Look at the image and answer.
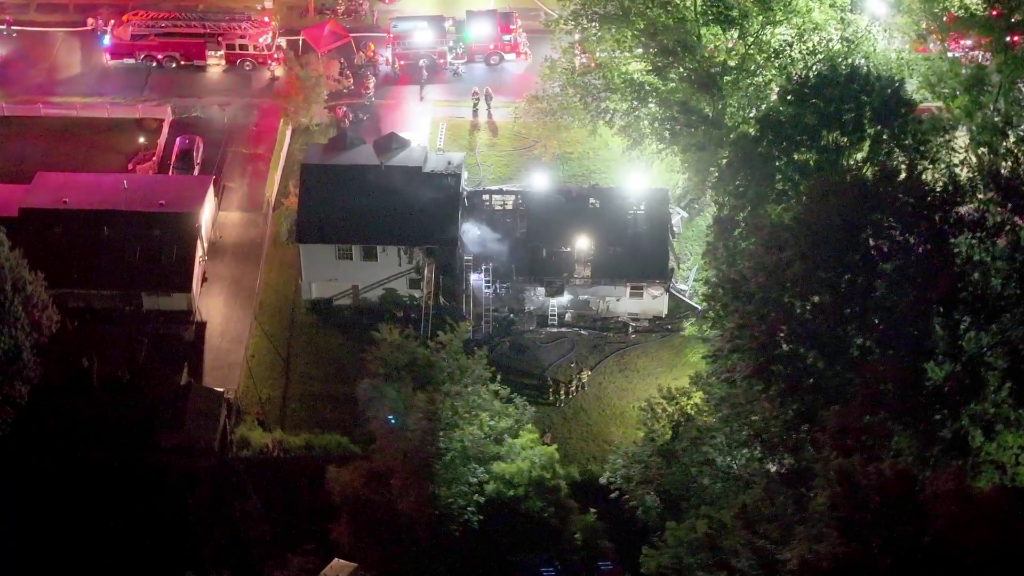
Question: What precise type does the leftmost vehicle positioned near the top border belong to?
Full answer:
The leftmost vehicle positioned near the top border in the image is a truck.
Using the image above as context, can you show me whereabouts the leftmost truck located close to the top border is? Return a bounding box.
[99,5,282,68]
